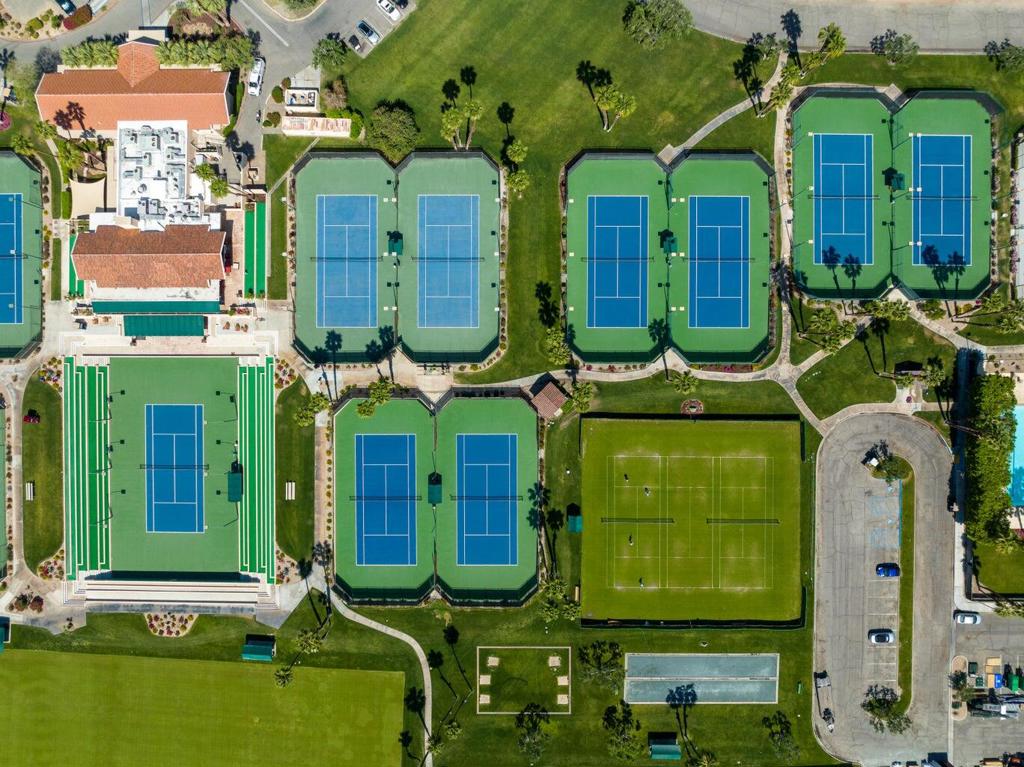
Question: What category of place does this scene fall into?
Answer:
sports ground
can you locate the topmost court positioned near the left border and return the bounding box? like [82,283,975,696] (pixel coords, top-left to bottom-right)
[0,157,41,356]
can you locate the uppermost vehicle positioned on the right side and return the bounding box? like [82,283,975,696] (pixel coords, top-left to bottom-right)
[877,565,901,578]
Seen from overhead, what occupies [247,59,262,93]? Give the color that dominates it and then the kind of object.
white vehicle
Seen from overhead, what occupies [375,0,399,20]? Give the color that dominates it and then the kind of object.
white car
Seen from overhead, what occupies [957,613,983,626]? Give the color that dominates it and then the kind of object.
white vehicle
